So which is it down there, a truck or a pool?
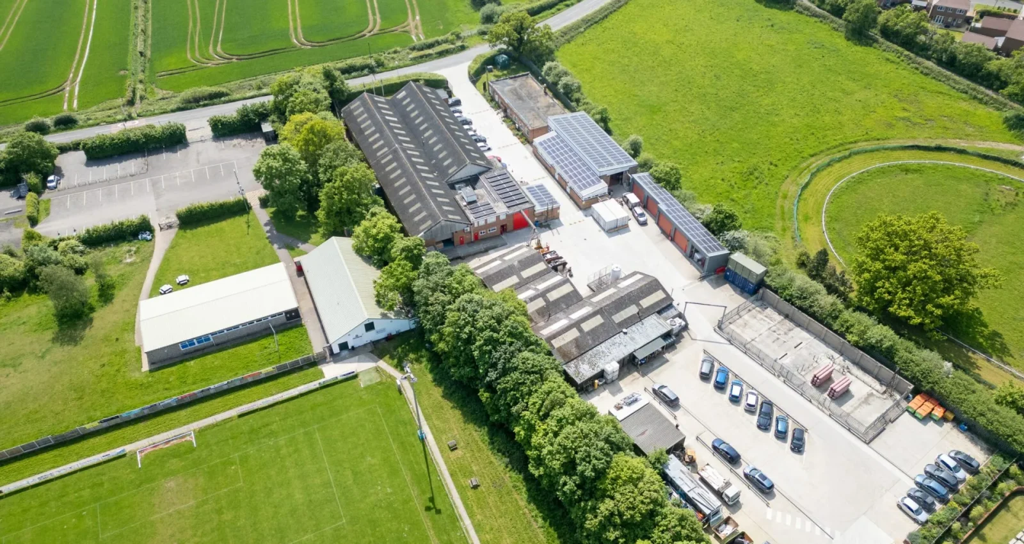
truck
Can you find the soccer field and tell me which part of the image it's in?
bottom left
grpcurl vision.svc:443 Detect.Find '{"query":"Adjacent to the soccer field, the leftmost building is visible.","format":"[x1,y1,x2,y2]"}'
[140,262,300,371]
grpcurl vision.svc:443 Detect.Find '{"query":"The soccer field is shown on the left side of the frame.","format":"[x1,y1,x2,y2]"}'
[0,374,468,544]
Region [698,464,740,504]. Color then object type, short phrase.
white truck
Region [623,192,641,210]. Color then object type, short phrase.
white vehicle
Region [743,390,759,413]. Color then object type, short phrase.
white car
